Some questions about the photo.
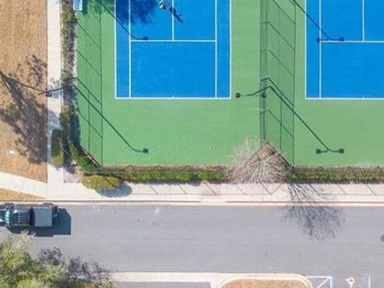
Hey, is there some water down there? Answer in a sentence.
No, the scene doesn't show any water.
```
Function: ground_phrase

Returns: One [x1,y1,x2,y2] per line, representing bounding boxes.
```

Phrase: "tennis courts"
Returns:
[113,0,231,98]
[304,0,384,99]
